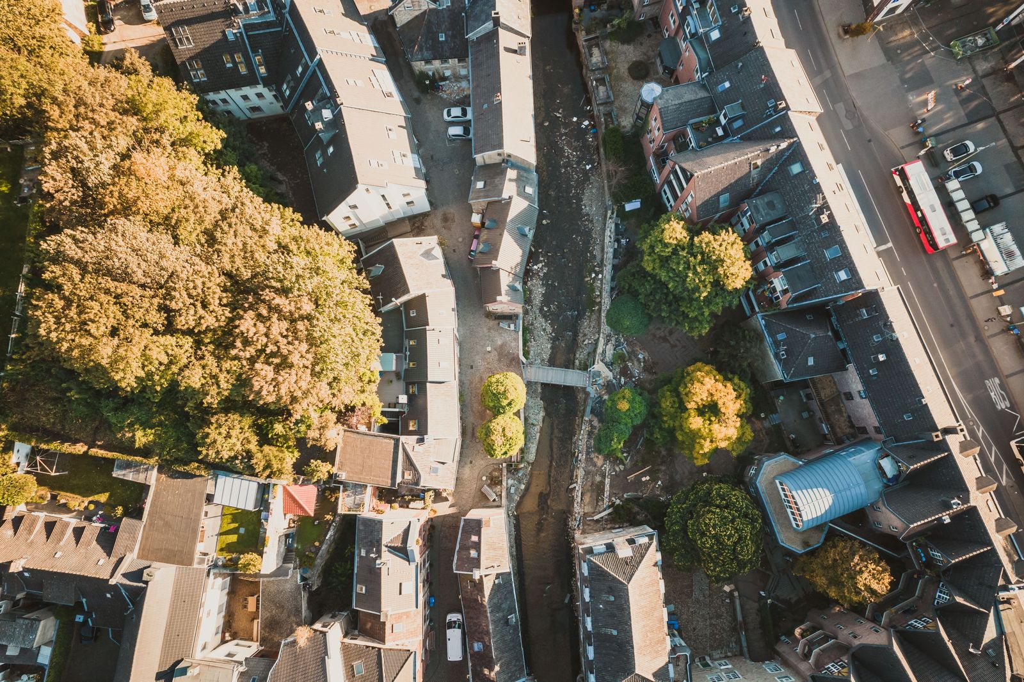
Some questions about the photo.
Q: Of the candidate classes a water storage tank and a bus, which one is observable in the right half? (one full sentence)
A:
There is a bus in the right half.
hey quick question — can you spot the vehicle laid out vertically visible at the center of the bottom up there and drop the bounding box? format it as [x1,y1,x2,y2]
[445,612,464,665]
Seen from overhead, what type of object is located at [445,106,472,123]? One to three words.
car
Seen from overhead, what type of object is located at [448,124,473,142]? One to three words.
car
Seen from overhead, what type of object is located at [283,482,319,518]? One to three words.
building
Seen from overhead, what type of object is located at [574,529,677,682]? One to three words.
house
